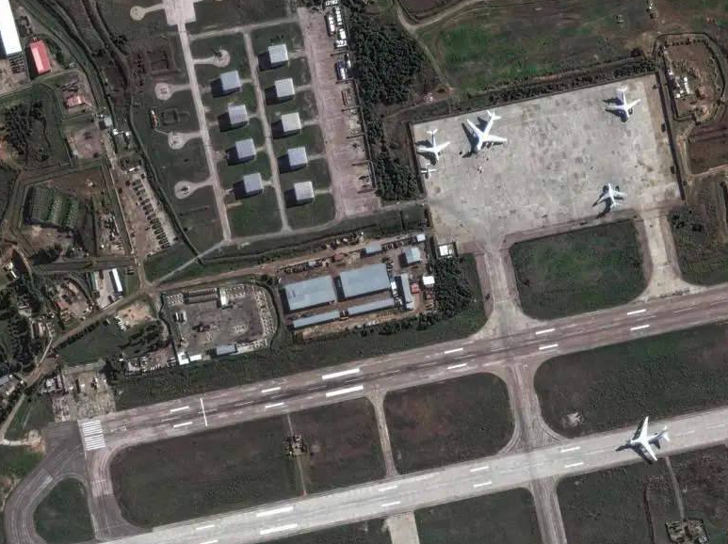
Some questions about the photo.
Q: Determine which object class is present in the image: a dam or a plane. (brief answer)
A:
plane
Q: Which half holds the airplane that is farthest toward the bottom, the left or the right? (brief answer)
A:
right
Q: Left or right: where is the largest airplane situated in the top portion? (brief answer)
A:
right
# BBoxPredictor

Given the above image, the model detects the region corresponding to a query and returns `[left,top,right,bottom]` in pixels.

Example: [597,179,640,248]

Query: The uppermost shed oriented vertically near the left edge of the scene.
[0,0,22,57]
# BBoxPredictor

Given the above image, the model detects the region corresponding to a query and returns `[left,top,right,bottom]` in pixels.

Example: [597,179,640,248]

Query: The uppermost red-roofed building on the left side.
[29,40,52,74]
